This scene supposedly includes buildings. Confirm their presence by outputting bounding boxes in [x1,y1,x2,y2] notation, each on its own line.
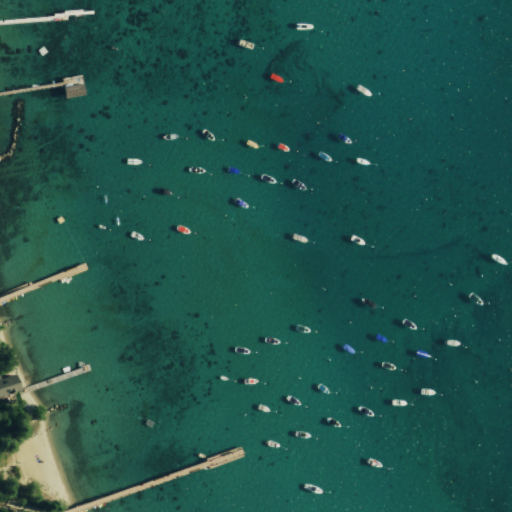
[65,83,86,98]
[2,376,20,388]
